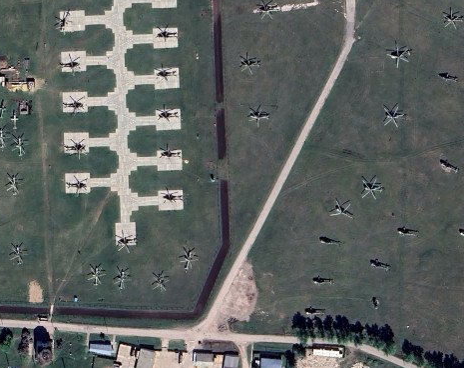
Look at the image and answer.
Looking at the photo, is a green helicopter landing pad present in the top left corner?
No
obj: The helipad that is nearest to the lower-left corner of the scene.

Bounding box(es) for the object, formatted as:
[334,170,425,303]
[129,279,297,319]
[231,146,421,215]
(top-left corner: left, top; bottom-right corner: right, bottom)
[115,223,136,245]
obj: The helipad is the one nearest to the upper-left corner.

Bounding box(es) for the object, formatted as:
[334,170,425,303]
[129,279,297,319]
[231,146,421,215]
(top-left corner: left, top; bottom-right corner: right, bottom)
[59,11,84,32]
